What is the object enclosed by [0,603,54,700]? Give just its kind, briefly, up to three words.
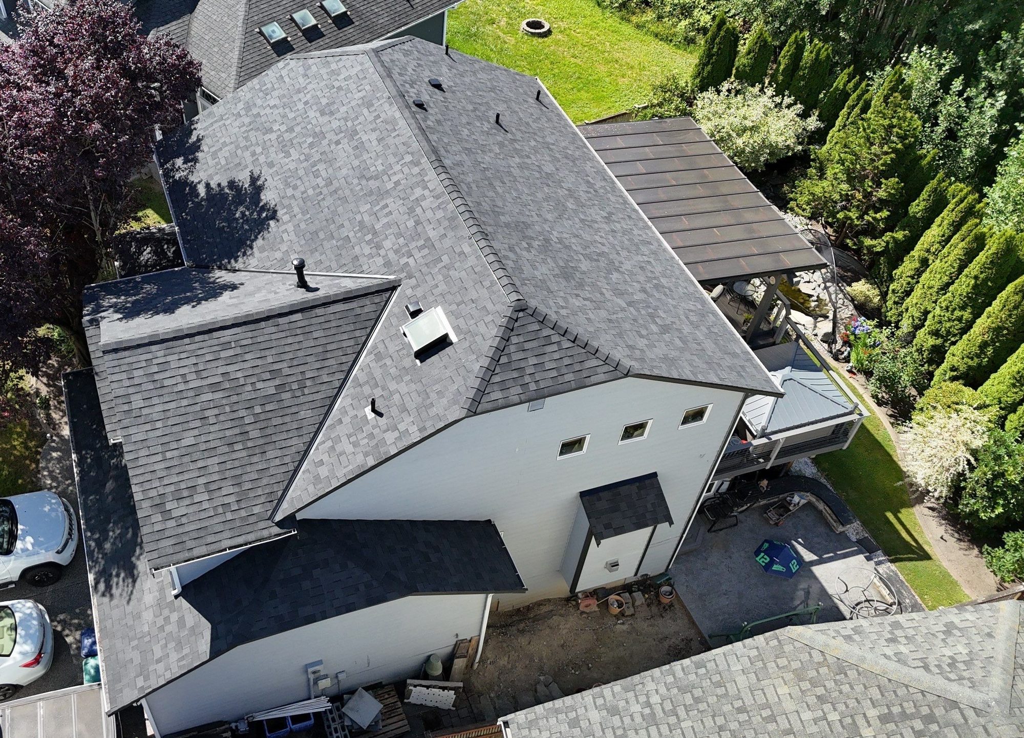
car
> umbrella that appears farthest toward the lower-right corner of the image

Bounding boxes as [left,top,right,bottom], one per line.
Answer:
[748,536,798,586]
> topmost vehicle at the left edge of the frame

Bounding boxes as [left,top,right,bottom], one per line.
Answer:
[0,490,81,596]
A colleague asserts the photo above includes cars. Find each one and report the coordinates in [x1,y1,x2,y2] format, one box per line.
[0,603,54,700]
[0,490,81,596]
